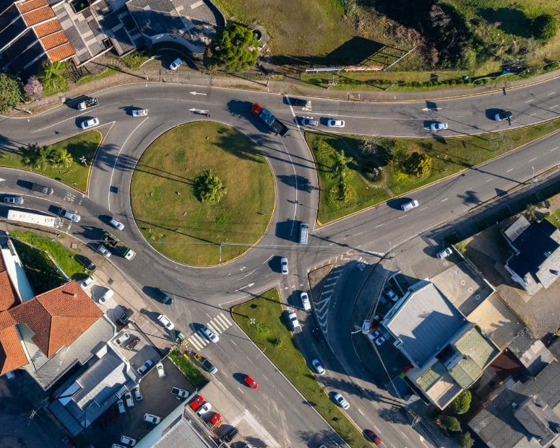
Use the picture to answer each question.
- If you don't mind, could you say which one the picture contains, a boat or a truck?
truck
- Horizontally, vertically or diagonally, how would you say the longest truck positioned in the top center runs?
diagonally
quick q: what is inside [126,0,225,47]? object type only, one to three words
building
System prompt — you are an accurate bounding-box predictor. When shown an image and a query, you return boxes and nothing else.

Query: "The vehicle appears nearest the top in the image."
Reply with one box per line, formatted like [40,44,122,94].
[169,55,184,71]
